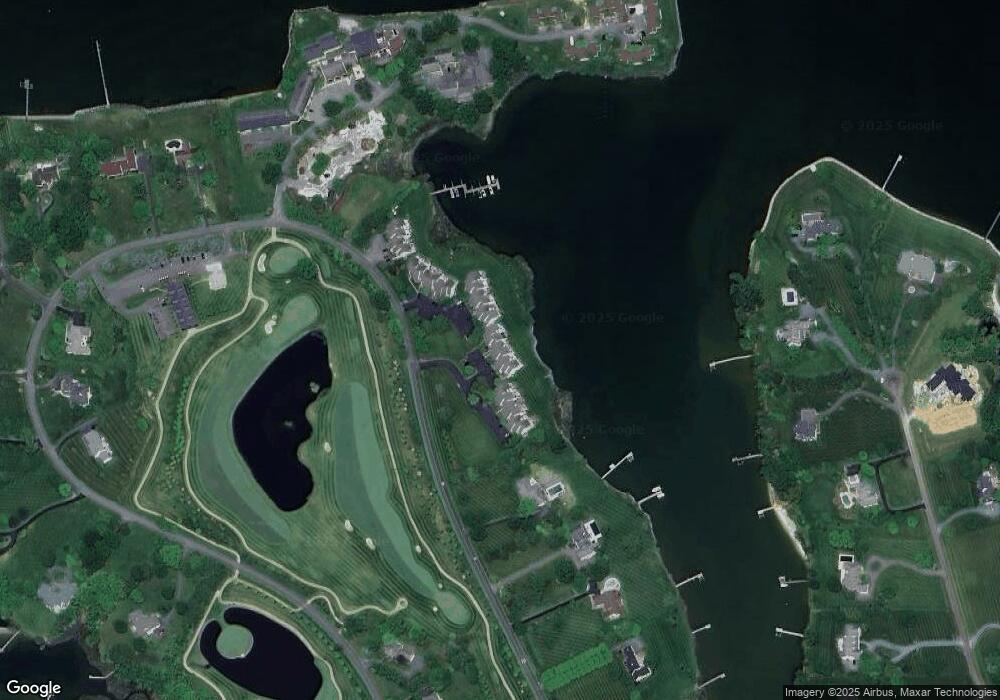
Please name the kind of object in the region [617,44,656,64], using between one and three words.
house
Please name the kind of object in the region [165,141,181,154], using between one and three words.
swimming pool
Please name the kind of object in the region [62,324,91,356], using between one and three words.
house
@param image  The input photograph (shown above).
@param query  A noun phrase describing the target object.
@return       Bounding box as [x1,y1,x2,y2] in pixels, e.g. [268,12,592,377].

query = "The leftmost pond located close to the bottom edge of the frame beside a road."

[200,606,322,700]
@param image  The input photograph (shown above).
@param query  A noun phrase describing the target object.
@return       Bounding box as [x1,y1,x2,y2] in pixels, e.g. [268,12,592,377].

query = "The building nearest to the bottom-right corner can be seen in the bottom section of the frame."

[839,630,862,660]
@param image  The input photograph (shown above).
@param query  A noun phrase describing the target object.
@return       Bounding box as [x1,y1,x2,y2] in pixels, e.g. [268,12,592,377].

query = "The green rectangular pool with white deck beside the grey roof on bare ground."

[544,480,564,499]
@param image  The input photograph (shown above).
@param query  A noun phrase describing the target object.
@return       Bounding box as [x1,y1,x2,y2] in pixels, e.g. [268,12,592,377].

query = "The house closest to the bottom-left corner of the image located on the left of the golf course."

[37,580,76,611]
